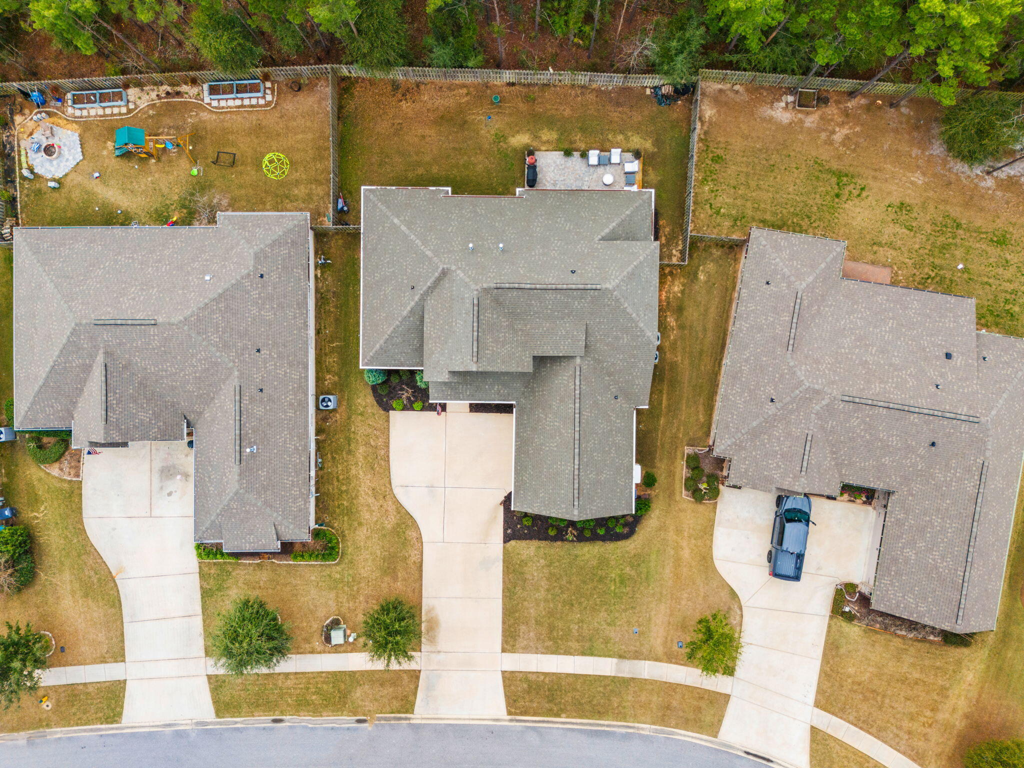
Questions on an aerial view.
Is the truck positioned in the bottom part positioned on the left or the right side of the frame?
right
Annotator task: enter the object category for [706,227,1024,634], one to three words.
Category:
house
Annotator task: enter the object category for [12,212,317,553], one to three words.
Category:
house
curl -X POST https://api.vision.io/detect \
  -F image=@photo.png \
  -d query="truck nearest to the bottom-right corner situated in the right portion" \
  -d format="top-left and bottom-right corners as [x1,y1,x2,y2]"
[767,494,818,580]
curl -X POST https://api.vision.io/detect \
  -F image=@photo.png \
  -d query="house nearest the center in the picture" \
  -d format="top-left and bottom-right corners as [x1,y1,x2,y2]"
[360,186,660,521]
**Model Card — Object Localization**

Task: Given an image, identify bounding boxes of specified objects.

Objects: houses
[12,212,317,553]
[360,186,660,521]
[706,227,1024,634]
